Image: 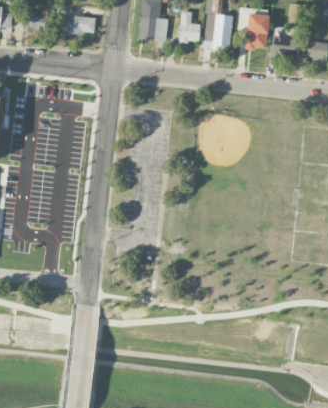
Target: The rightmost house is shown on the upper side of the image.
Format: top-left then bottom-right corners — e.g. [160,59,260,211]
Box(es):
[308,40,328,62]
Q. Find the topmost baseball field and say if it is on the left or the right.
right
